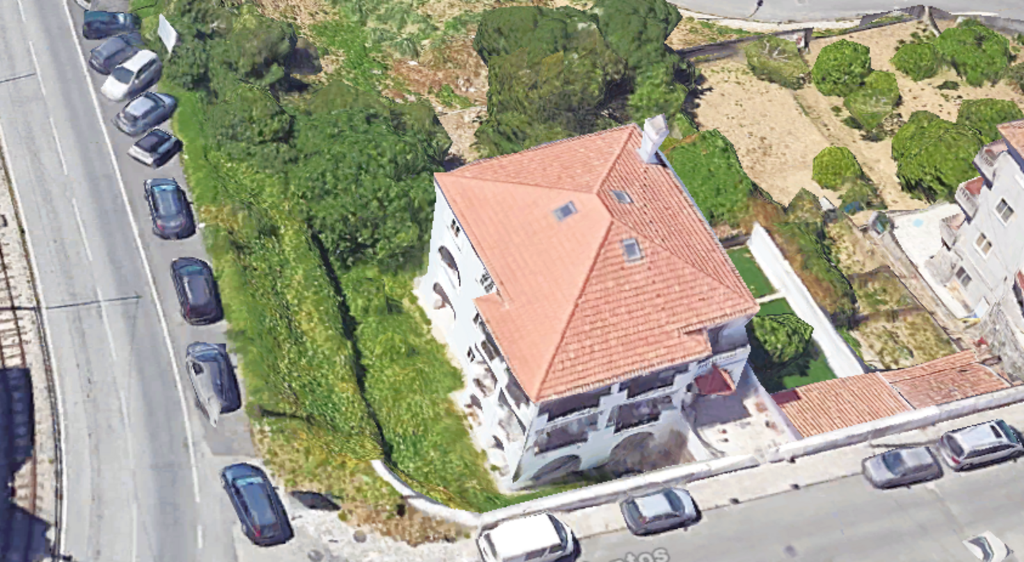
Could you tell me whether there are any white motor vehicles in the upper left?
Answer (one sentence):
Yes, a white motor vehicle appears in the upper left.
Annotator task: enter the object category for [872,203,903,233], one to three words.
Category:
greenhouse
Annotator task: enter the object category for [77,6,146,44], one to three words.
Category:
car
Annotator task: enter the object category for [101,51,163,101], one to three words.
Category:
car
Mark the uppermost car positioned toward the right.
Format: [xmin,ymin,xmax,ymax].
[939,422,1023,469]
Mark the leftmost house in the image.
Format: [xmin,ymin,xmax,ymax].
[431,118,763,489]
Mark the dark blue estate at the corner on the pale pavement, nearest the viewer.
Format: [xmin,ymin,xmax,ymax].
[221,463,291,547]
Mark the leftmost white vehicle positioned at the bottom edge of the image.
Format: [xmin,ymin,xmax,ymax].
[484,516,573,562]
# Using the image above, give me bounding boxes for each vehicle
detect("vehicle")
[77,6,146,44]
[861,450,944,489]
[221,463,291,547]
[84,36,149,78]
[109,95,182,139]
[620,490,700,534]
[484,516,573,562]
[150,180,192,239]
[187,340,237,413]
[174,258,220,325]
[939,422,1023,469]
[127,131,185,171]
[101,51,163,101]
